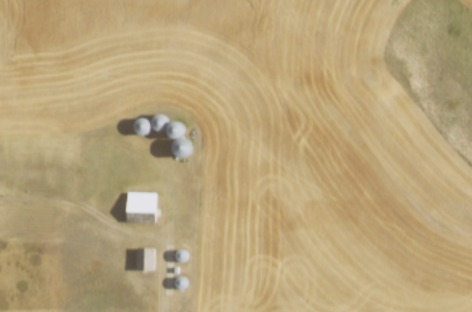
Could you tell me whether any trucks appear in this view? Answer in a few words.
No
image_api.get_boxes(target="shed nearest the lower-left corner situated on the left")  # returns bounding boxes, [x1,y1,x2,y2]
[136,248,156,270]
